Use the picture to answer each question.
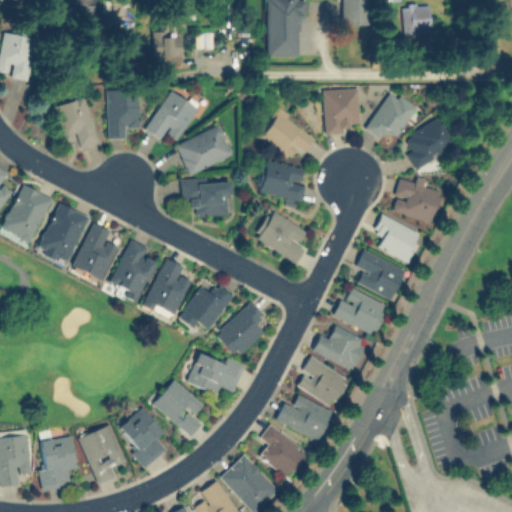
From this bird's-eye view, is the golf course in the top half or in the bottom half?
bottom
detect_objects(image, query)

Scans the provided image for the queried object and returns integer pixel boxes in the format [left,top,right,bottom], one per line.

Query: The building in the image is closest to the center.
[258,212,306,266]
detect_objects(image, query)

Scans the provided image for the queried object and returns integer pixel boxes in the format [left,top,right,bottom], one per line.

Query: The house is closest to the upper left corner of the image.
[0,31,32,80]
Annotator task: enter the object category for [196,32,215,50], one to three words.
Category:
building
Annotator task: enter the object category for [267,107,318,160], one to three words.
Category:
house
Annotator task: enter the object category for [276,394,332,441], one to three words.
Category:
house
